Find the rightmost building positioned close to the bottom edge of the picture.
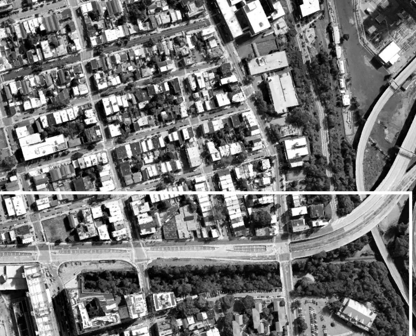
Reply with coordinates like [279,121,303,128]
[333,297,377,331]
